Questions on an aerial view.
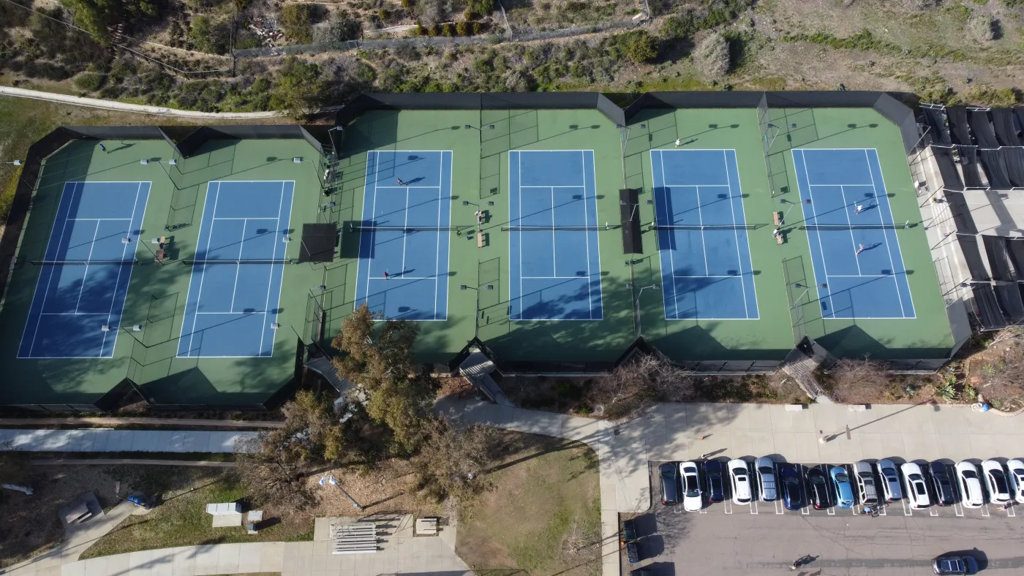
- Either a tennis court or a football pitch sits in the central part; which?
tennis court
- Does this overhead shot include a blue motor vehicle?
Yes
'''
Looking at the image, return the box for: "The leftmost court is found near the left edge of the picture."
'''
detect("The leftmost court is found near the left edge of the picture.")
[0,140,185,415]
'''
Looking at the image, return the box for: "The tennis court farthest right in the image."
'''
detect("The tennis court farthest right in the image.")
[757,107,955,374]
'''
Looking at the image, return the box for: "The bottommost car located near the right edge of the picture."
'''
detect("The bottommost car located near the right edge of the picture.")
[930,554,977,576]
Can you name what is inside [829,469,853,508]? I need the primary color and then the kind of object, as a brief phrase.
blue car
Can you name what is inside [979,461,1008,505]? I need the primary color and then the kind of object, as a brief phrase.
white car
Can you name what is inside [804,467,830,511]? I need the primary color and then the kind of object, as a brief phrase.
black car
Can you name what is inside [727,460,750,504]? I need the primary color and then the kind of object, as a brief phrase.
white car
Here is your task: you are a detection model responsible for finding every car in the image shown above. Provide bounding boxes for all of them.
[954,465,981,505]
[930,554,977,576]
[679,464,702,509]
[727,460,750,504]
[829,469,853,508]
[658,462,679,506]
[979,461,1008,505]
[702,459,724,503]
[926,462,955,506]
[1001,460,1024,504]
[753,458,776,502]
[900,464,927,509]
[852,462,879,506]
[875,459,902,502]
[804,467,830,511]
[778,466,802,510]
